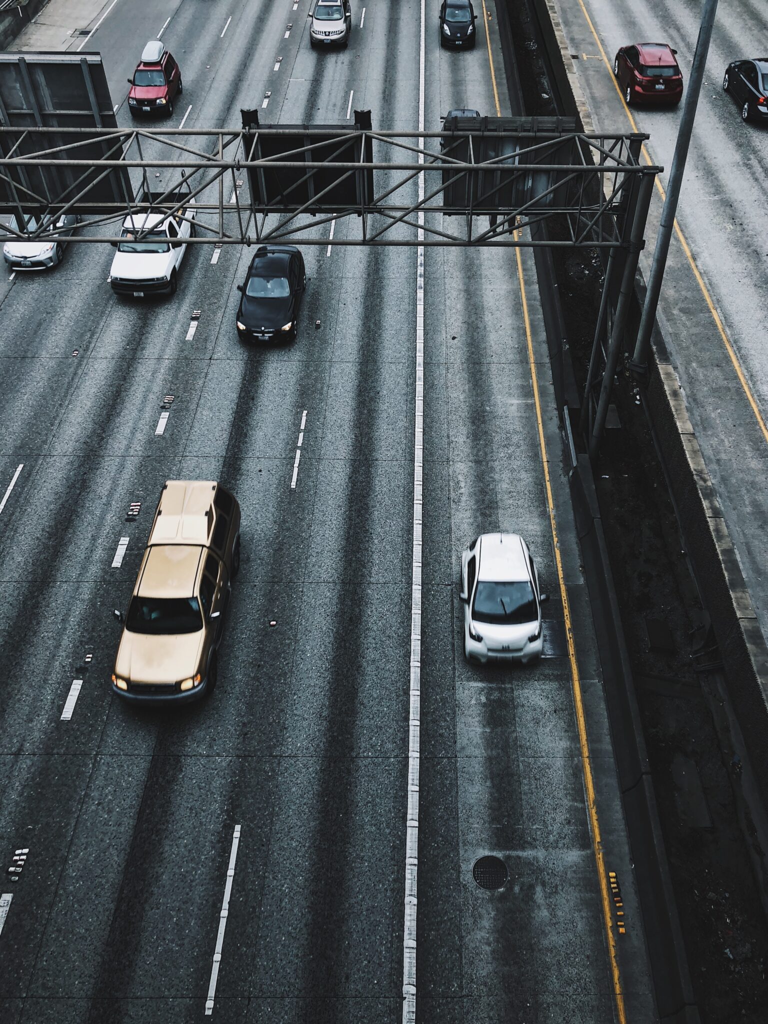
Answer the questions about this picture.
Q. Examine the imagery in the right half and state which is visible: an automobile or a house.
automobile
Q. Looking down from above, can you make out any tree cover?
No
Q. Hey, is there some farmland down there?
No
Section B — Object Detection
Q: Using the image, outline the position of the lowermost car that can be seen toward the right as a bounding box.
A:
[455,534,553,665]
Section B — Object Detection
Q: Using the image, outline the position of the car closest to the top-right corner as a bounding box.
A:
[721,60,768,118]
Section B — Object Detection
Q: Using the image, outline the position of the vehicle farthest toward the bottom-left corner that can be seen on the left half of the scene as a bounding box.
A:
[107,477,241,701]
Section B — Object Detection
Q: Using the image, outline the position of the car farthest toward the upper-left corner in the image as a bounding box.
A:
[125,51,183,115]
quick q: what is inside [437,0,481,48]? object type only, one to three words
car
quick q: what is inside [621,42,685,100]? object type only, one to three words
car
